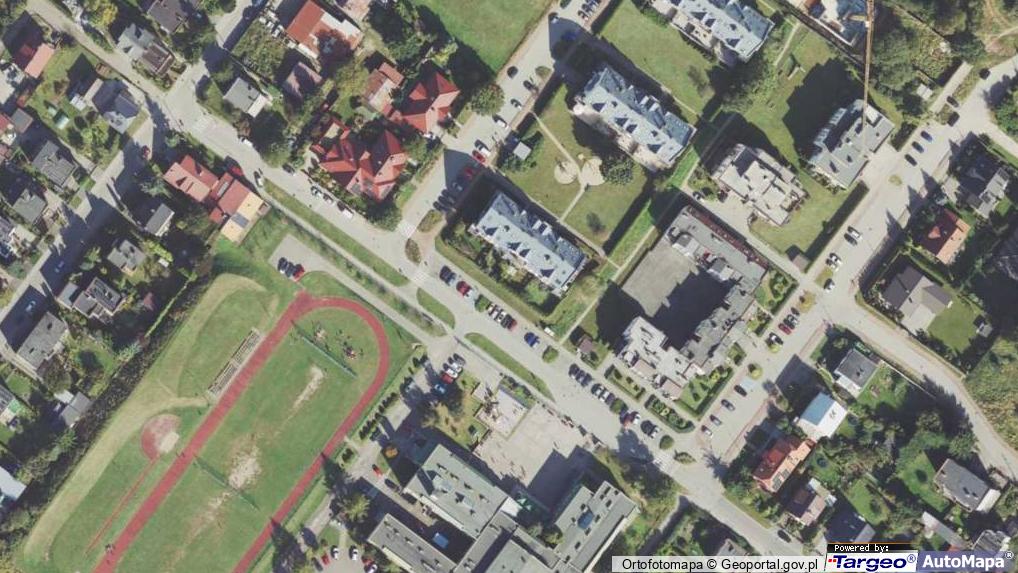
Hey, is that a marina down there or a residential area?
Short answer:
residential area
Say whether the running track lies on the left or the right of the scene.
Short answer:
left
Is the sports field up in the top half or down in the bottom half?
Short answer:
bottom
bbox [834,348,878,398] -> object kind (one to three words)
house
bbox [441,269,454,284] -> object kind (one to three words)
vehicle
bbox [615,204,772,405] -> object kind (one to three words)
building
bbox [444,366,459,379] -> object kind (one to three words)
vehicle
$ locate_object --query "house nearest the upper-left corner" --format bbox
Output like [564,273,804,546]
[13,33,57,82]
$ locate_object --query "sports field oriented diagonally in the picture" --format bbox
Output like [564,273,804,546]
[114,306,380,573]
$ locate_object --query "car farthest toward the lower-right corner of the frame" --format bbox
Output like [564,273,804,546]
[776,530,791,543]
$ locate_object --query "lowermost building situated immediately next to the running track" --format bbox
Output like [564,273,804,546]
[367,446,637,573]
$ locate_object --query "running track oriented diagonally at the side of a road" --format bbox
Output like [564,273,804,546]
[92,292,388,573]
